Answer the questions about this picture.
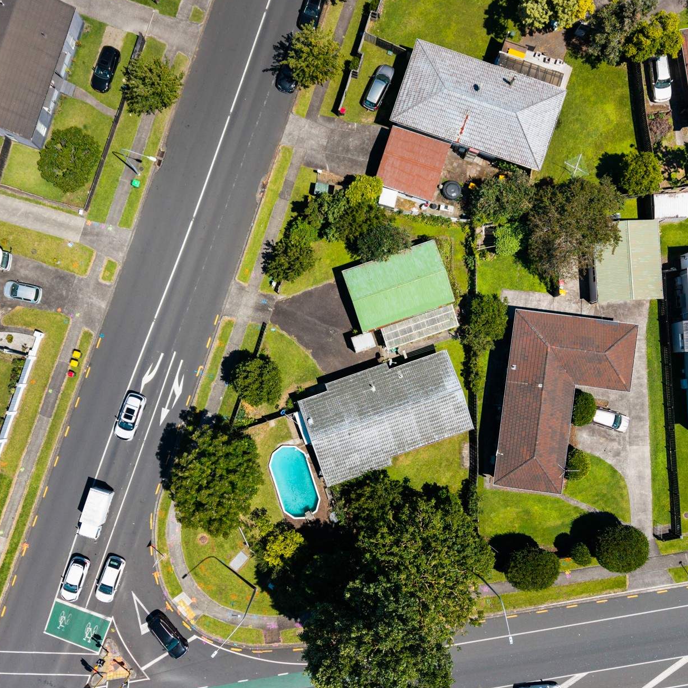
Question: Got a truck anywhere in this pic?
Yes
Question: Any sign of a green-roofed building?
Yes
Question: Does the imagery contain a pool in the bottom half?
Yes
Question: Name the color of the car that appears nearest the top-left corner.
black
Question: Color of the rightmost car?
white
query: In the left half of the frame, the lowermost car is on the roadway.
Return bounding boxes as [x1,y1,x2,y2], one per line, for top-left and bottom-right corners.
[147,606,188,660]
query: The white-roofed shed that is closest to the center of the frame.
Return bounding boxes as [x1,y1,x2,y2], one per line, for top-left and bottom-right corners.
[351,332,376,352]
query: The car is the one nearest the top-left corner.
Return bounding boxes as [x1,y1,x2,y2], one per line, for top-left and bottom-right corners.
[89,44,123,96]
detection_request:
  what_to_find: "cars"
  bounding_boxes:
[89,44,123,96]
[275,59,299,96]
[60,552,94,602]
[147,606,188,660]
[584,407,630,433]
[648,55,676,105]
[516,679,562,688]
[296,0,325,29]
[362,64,393,115]
[114,390,149,441]
[3,278,46,305]
[95,553,128,602]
